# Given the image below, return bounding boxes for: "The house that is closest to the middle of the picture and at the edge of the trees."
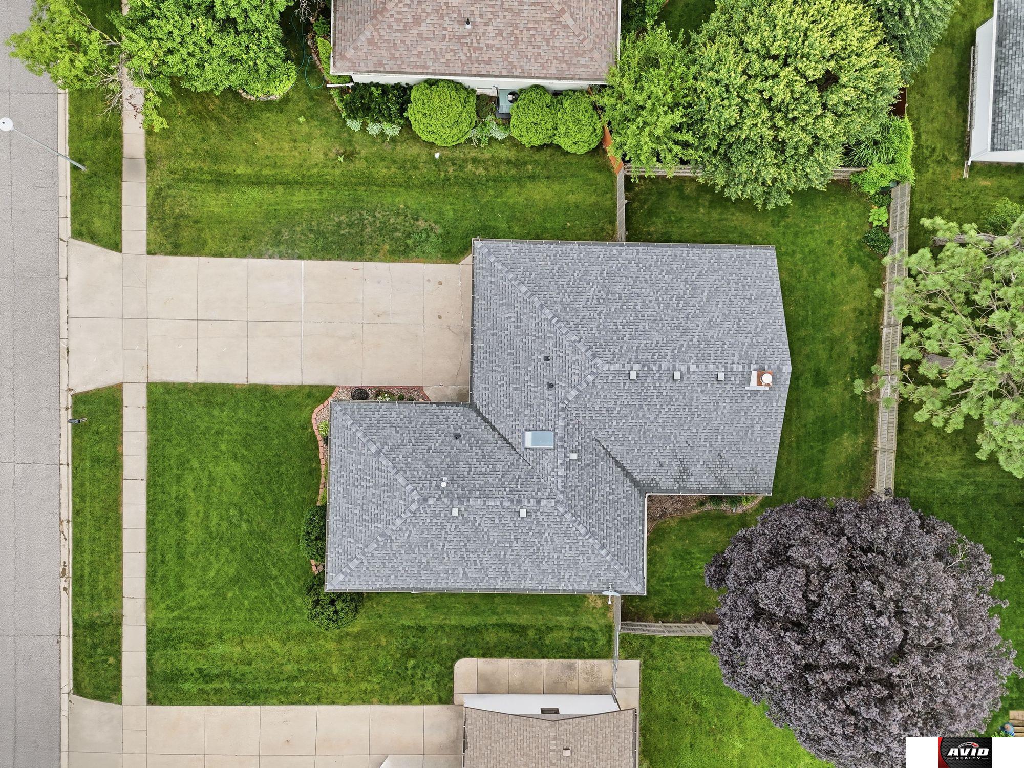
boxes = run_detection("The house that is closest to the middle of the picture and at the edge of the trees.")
[323,235,792,597]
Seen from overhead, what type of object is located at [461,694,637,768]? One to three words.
house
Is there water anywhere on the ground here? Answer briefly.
No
